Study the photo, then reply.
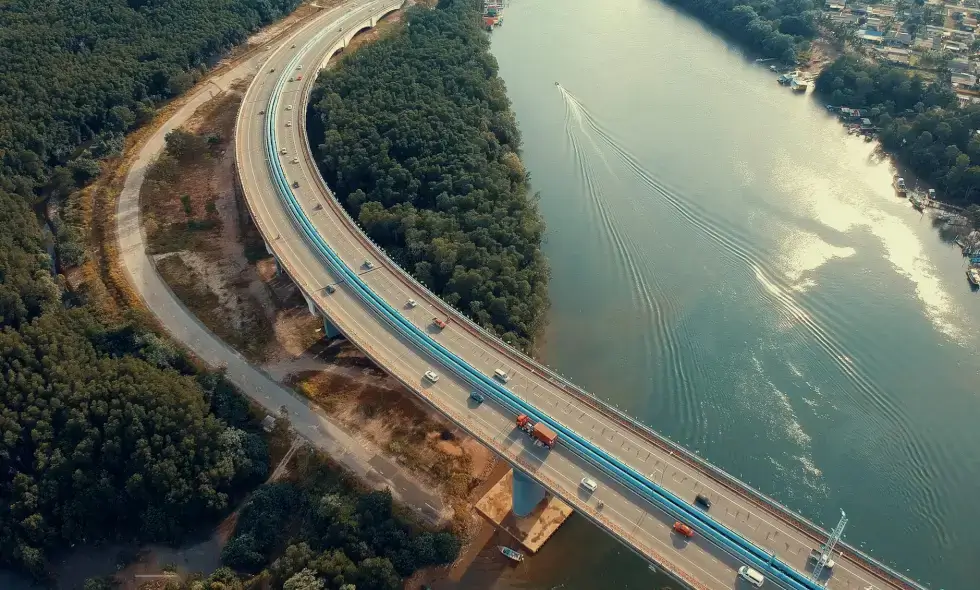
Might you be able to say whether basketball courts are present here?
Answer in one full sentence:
No, no basketball court is visible in the view.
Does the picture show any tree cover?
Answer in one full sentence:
Yes, the picture does contain tree cover.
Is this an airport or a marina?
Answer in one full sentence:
It's a marina.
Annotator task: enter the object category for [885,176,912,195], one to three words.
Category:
boat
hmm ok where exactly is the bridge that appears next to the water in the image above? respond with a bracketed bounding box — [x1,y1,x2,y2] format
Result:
[236,0,924,590]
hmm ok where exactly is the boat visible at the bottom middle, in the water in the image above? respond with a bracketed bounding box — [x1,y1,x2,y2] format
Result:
[499,546,526,560]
